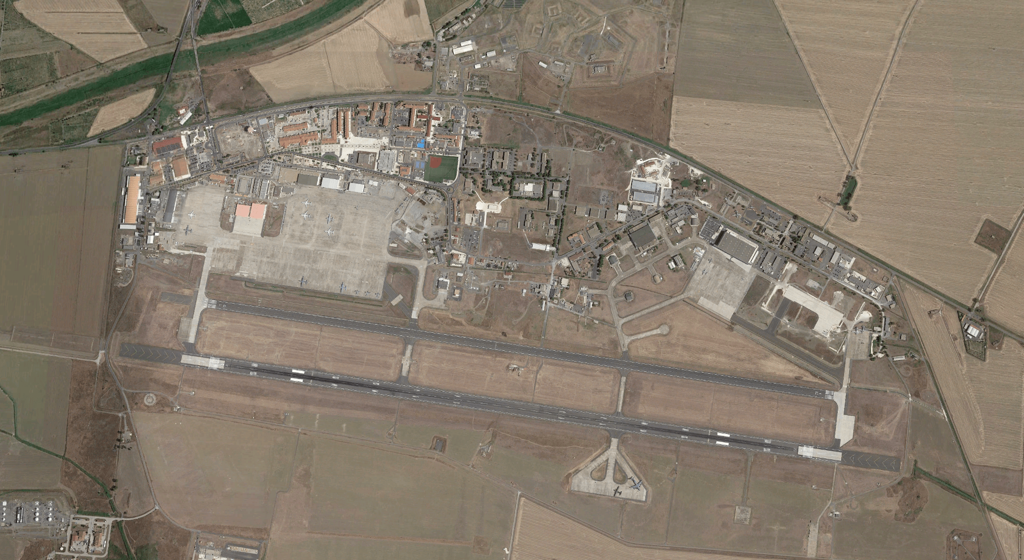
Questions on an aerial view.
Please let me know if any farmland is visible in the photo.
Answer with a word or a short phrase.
Yes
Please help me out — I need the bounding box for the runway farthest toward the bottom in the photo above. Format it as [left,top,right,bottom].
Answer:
[179,351,844,464]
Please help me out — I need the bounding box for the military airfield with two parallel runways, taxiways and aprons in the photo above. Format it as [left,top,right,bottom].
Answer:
[118,184,904,503]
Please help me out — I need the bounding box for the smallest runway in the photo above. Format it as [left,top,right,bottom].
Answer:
[208,299,835,400]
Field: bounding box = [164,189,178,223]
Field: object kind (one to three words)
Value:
hangar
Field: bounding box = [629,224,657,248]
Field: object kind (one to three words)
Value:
hangar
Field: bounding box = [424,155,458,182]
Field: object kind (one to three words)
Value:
sports field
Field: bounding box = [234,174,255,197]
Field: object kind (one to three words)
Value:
building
